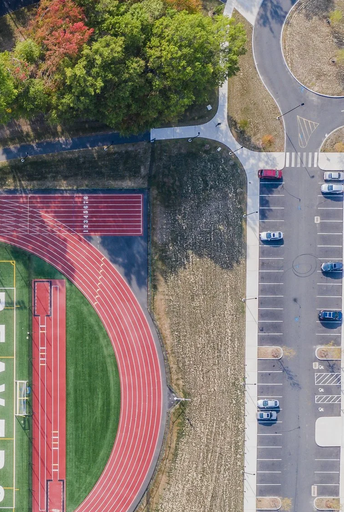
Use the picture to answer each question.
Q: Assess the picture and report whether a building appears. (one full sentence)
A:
No, no building is visible in the scene.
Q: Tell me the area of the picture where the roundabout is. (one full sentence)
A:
Look in the top right portion of the view to spot the roundabout.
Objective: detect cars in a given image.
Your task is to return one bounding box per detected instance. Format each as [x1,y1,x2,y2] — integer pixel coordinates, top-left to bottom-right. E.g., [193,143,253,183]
[324,170,344,180]
[321,310,344,320]
[323,182,344,192]
[257,411,280,420]
[260,167,284,178]
[258,399,281,409]
[322,261,344,271]
[261,230,284,240]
